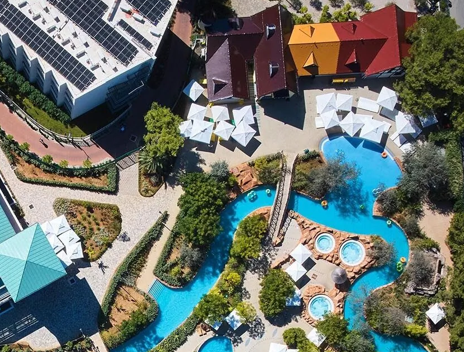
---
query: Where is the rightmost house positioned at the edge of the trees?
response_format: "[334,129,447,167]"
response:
[285,4,418,83]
